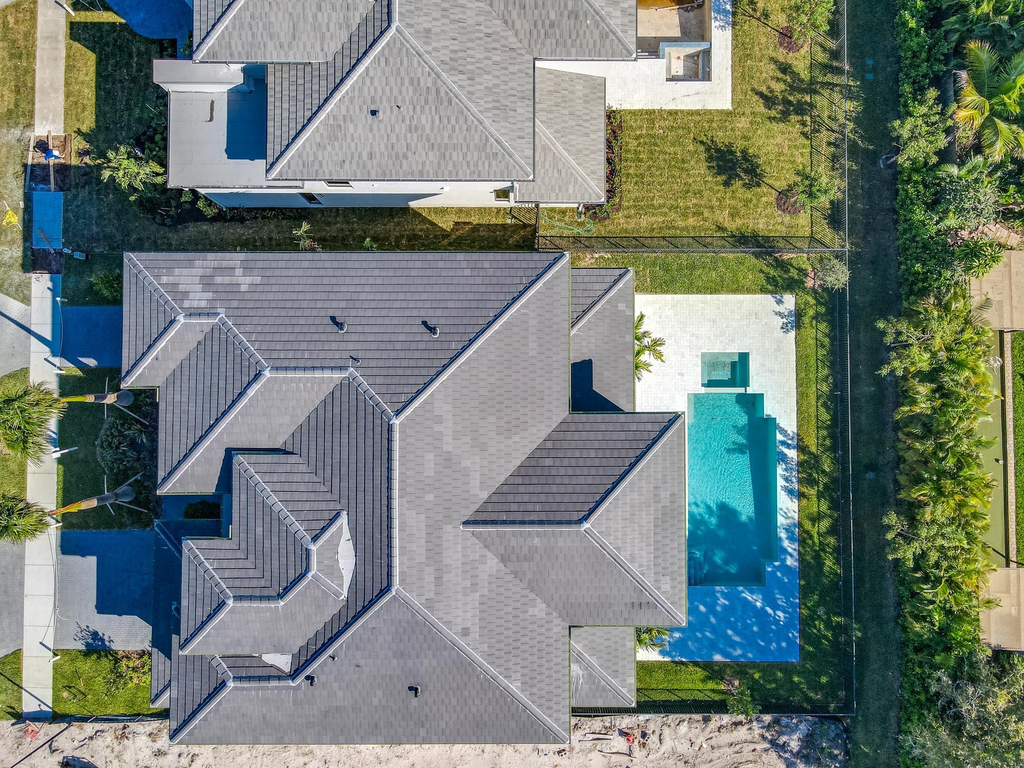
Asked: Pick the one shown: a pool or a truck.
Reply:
pool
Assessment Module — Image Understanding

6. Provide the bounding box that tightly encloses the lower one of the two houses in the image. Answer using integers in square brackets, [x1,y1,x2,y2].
[118,248,689,747]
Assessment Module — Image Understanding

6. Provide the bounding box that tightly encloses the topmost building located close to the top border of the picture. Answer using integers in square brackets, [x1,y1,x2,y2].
[159,0,639,219]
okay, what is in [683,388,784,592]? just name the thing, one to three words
swimming pool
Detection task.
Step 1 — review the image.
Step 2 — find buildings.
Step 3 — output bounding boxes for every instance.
[159,0,639,219]
[118,248,689,747]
